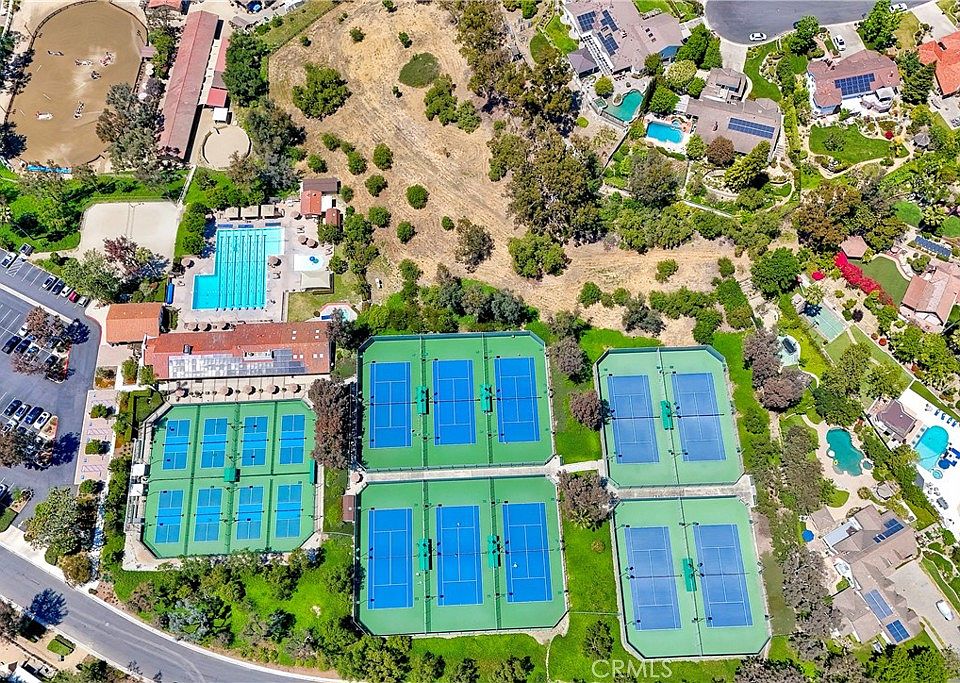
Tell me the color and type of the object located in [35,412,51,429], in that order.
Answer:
white car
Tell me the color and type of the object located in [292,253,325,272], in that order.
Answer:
white swimming pool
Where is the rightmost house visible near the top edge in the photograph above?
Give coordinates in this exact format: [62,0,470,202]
[918,32,960,100]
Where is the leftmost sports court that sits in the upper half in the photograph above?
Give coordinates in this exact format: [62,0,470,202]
[79,200,180,270]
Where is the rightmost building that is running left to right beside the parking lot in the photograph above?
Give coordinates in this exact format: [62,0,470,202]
[141,322,330,380]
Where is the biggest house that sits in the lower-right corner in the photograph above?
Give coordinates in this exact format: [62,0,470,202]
[831,505,922,644]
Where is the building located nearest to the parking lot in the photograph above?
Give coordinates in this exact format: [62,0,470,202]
[102,303,164,344]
